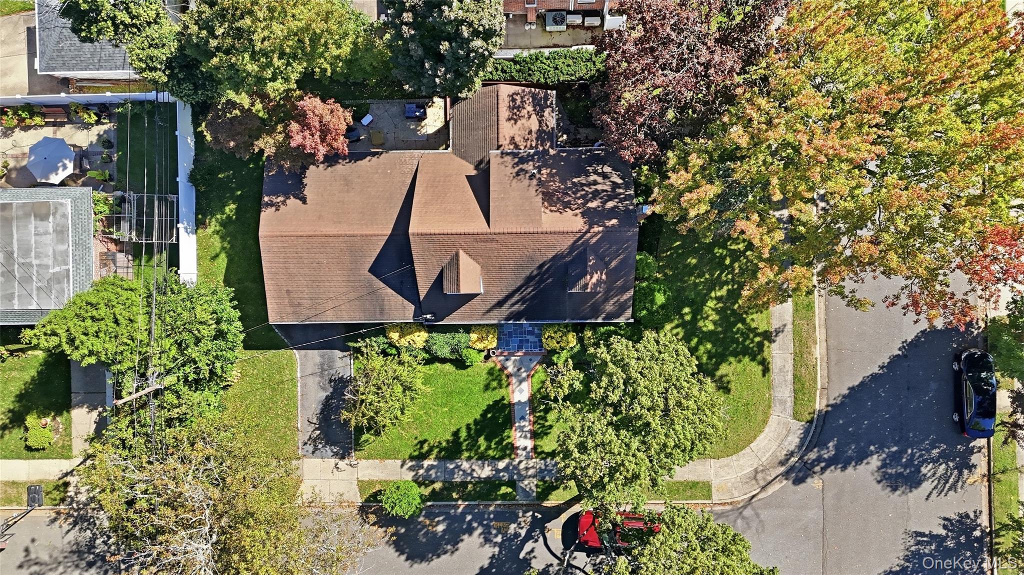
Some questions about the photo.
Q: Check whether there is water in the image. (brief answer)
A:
No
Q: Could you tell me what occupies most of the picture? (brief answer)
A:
trees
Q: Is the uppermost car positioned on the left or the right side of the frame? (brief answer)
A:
right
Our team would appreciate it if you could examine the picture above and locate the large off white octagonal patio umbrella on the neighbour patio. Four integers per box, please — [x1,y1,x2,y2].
[29,135,88,187]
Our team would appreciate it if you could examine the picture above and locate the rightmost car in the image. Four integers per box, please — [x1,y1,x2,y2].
[950,349,996,439]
